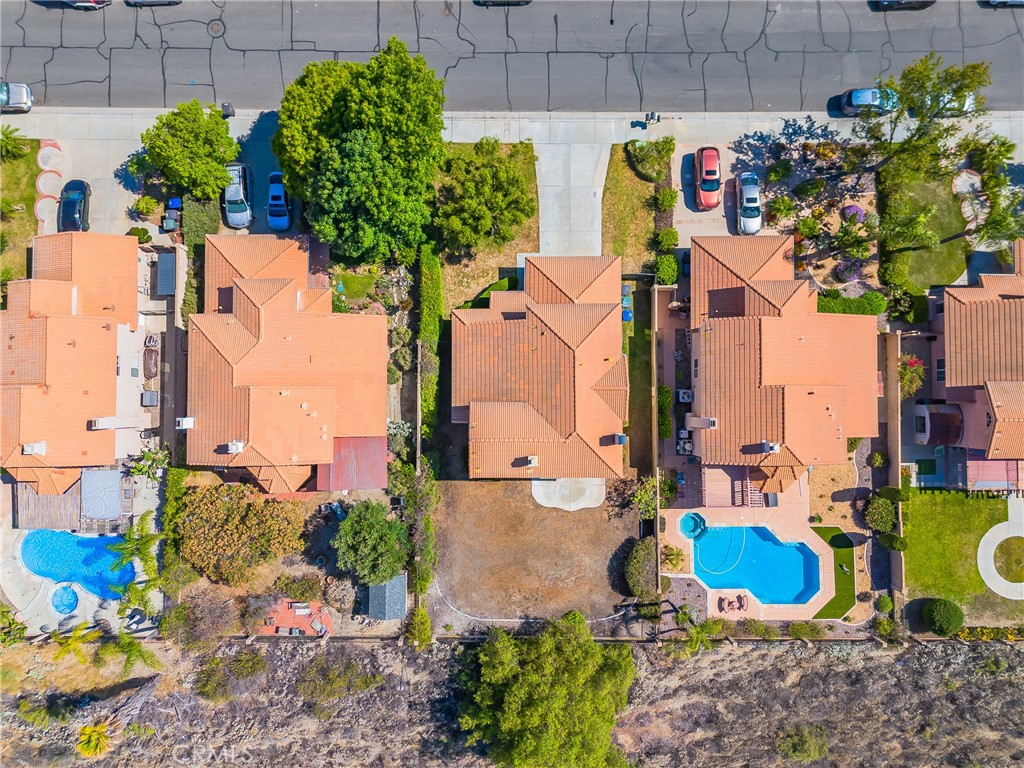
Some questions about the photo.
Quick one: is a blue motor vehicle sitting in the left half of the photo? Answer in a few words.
Yes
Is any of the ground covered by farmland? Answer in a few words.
No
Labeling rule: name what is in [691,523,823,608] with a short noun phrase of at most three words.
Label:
swimming pool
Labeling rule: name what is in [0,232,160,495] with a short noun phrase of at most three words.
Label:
house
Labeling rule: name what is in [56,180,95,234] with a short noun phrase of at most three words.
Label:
car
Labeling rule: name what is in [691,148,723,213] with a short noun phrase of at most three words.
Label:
car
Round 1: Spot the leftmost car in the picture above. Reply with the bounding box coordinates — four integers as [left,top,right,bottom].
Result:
[0,81,39,116]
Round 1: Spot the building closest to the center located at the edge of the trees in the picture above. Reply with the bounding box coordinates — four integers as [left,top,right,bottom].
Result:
[451,255,629,480]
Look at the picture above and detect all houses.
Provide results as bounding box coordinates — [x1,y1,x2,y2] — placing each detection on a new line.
[0,232,160,495]
[451,255,629,480]
[681,234,880,494]
[930,239,1024,460]
[173,233,388,494]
